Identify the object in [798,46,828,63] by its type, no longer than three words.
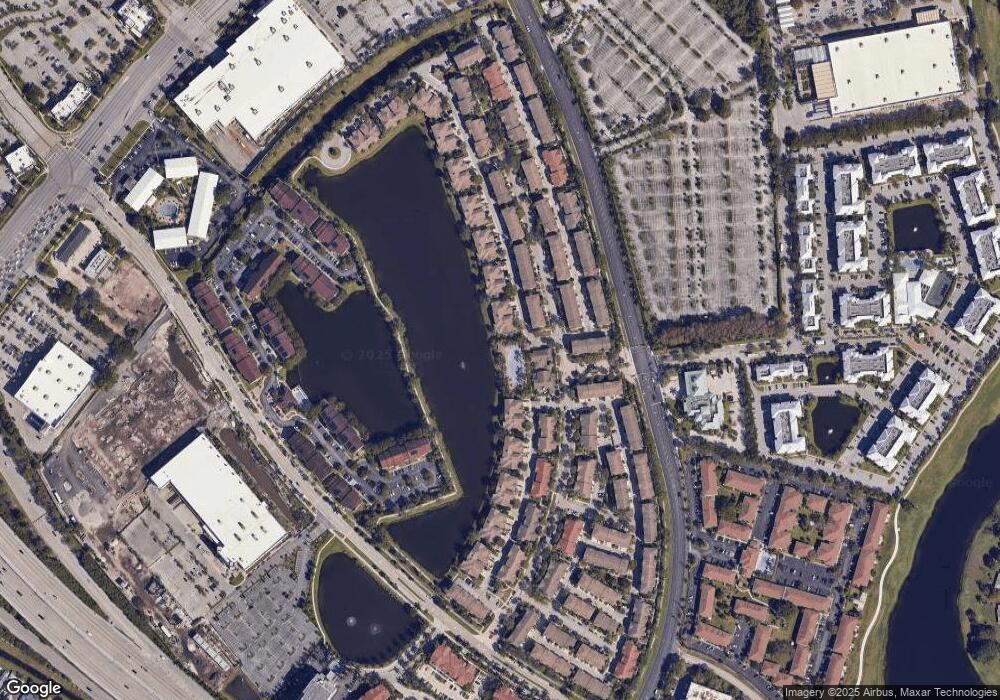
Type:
greenhouse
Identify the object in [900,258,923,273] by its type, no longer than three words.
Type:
swimming pool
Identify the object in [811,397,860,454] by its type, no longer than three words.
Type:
pond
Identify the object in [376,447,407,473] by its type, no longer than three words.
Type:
building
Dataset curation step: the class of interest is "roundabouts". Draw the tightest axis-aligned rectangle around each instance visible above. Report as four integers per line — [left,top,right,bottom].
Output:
[320,138,352,169]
